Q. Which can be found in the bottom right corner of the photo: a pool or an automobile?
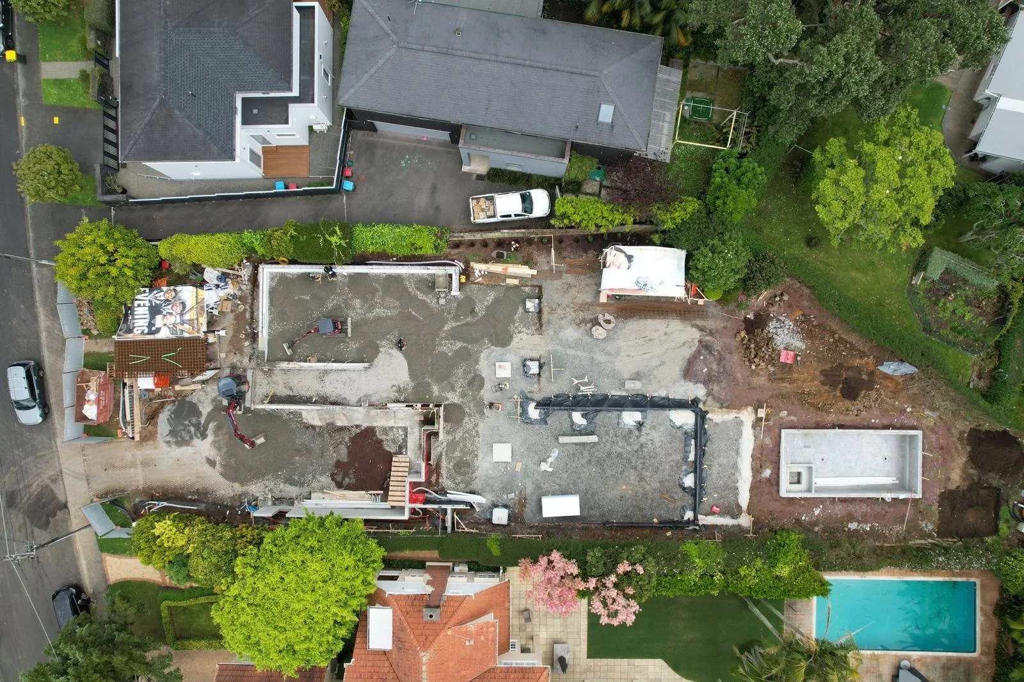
pool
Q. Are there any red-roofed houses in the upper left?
No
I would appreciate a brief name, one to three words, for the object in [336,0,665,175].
house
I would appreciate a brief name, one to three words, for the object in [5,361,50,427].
car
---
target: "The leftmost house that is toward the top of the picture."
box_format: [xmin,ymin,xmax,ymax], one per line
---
[116,0,334,179]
